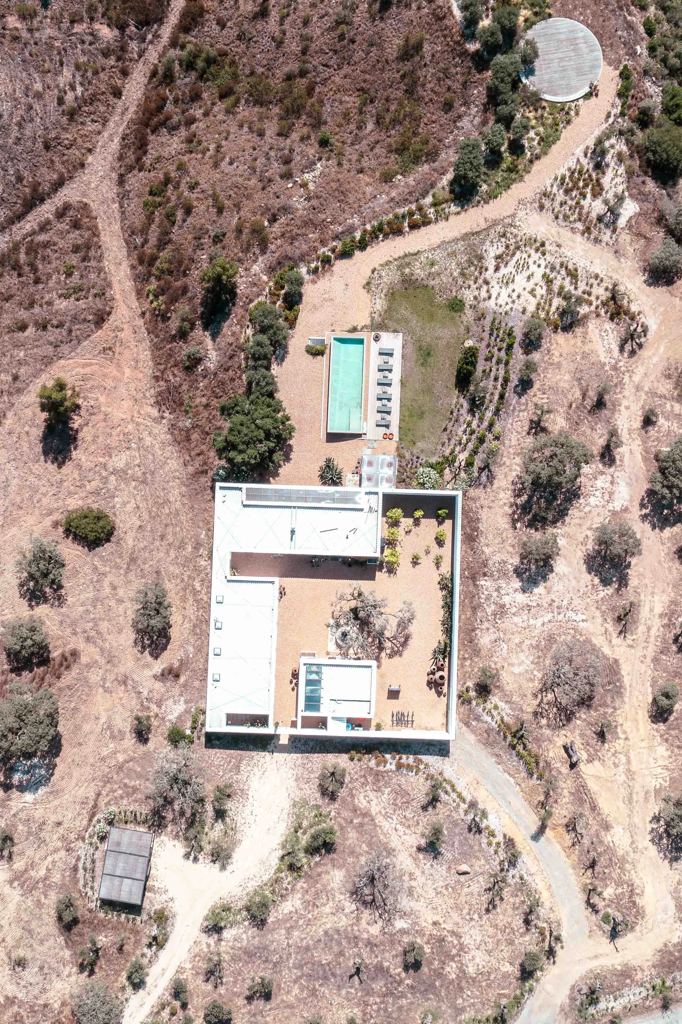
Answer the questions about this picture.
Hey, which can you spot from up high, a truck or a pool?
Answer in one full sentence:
The image shows a pool.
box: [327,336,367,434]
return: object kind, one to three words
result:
swimming pool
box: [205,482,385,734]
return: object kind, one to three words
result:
house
